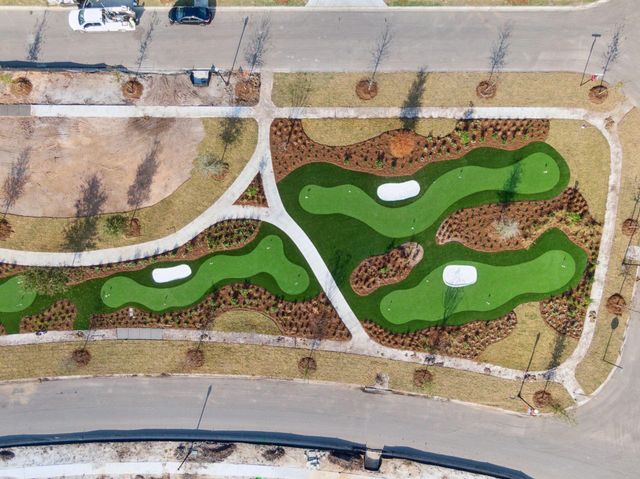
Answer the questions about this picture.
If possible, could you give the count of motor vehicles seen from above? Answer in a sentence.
The number of motor vehicles here is 2.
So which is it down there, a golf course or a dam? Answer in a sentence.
Looking from above, you can make out a golf course.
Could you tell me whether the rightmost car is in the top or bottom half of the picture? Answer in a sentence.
The top half of the photo is where the rightmost car is.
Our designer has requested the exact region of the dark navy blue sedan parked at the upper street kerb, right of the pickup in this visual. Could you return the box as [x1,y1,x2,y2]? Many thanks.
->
[169,3,214,26]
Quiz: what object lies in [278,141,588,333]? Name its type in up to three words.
golf course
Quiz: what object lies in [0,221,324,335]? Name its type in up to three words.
golf course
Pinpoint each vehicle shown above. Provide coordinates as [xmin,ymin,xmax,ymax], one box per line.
[68,4,136,32]
[169,3,214,26]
